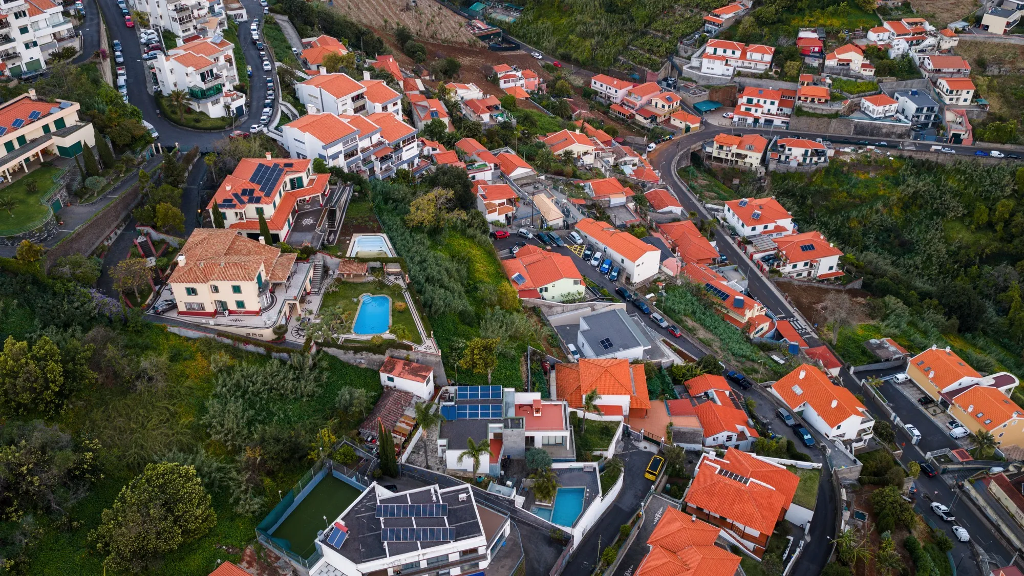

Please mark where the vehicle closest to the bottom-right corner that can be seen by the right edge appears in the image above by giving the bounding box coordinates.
[952,524,975,543]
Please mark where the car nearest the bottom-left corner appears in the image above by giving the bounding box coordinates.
[149,299,177,316]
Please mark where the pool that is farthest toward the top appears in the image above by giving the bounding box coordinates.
[351,234,392,257]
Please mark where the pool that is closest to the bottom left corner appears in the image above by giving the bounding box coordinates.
[350,295,394,336]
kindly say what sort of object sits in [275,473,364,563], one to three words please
sports court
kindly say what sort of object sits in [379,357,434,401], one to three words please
building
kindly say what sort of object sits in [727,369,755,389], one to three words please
vehicle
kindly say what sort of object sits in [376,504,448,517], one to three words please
solar panel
